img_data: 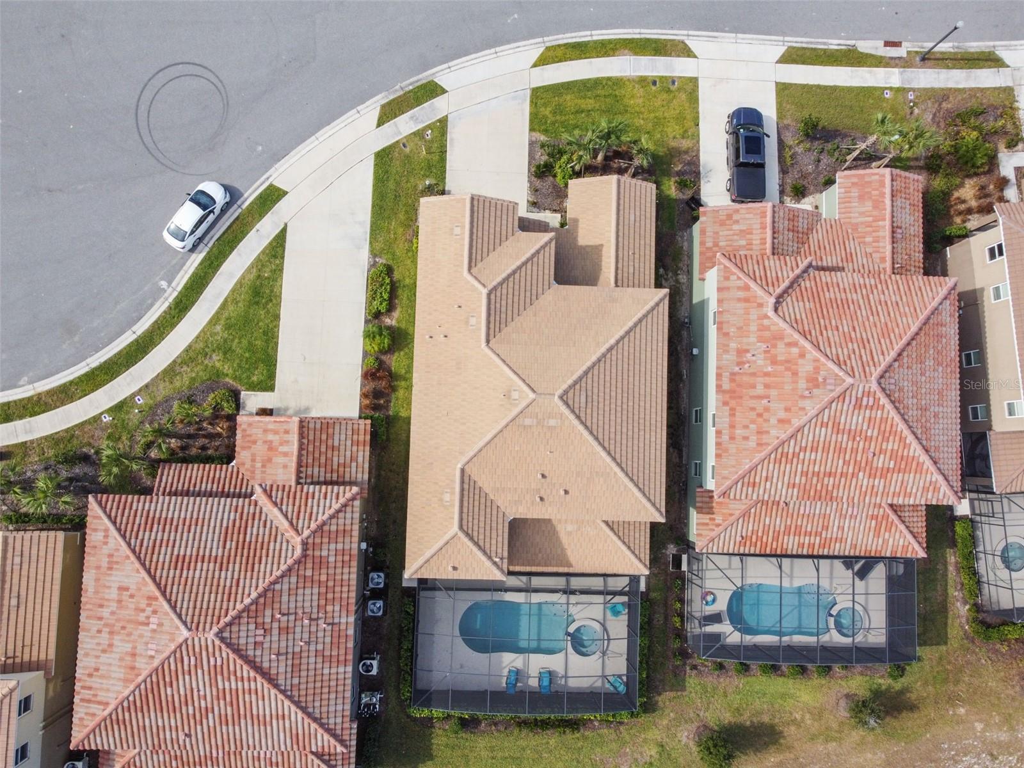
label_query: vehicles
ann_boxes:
[728,108,771,203]
[162,179,231,250]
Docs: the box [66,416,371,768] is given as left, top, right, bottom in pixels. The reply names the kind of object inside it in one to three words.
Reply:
house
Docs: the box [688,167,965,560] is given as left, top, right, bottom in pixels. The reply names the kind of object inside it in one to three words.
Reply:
house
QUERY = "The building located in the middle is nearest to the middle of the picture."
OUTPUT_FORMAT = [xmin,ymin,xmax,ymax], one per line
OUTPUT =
[402,175,672,582]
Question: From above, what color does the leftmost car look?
white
